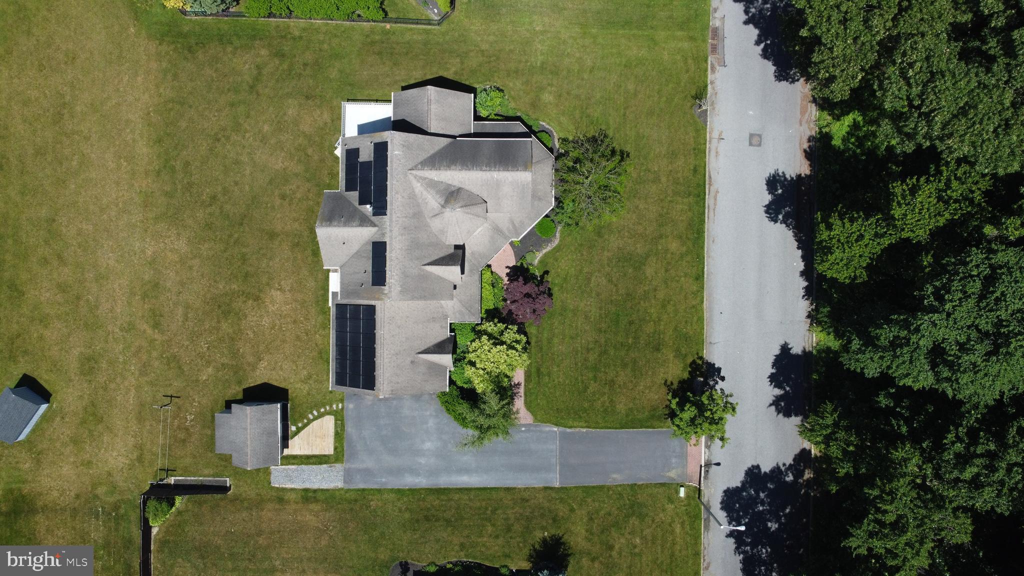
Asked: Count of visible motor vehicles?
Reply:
none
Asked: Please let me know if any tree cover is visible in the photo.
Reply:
Yes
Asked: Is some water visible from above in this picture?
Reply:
No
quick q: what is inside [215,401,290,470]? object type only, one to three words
shed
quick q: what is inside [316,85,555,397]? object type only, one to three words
house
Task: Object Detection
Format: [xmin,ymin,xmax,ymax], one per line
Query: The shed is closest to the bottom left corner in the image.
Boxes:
[0,383,51,444]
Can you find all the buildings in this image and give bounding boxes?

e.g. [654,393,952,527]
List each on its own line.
[316,85,555,397]
[0,383,51,444]
[215,401,290,470]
